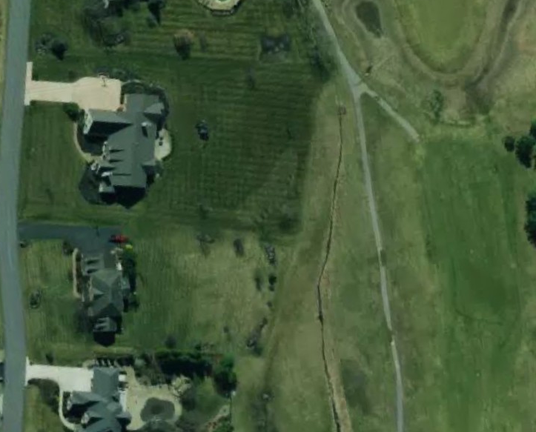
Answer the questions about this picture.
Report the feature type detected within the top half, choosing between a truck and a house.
house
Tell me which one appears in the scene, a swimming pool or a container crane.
swimming pool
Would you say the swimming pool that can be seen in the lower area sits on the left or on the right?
left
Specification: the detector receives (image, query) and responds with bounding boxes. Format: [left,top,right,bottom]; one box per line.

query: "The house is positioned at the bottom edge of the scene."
[69,366,134,432]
